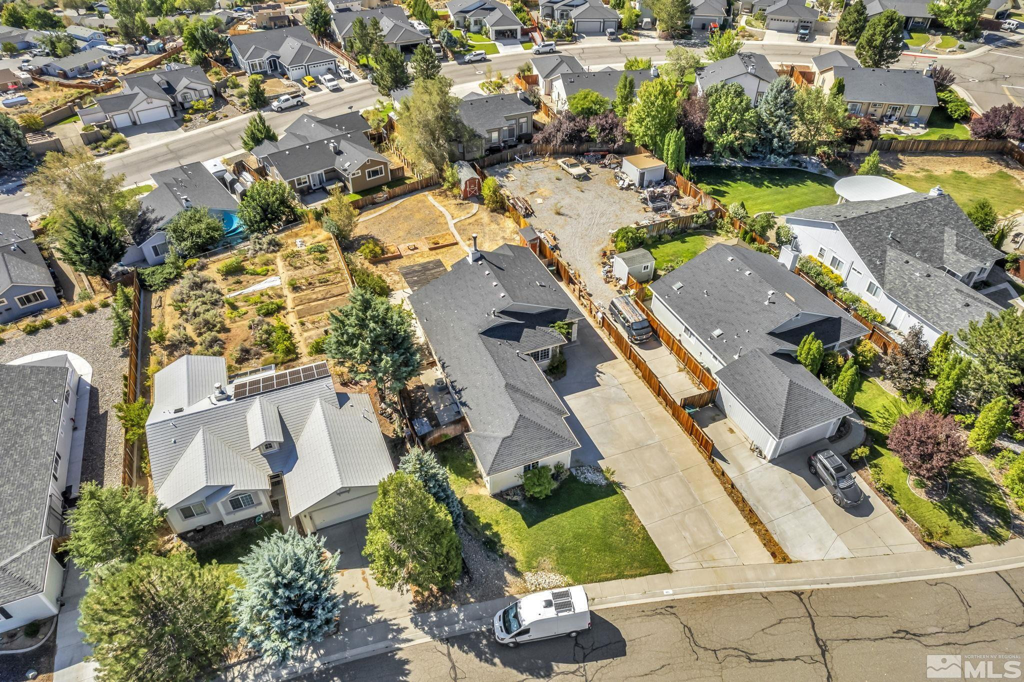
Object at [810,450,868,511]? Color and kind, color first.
gray car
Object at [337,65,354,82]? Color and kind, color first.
white car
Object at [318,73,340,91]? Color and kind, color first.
white vehicle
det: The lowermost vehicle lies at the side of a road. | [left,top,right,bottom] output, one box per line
[489,582,594,648]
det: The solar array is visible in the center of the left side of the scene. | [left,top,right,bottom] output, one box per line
[221,359,330,400]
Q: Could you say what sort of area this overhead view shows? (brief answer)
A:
residential area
